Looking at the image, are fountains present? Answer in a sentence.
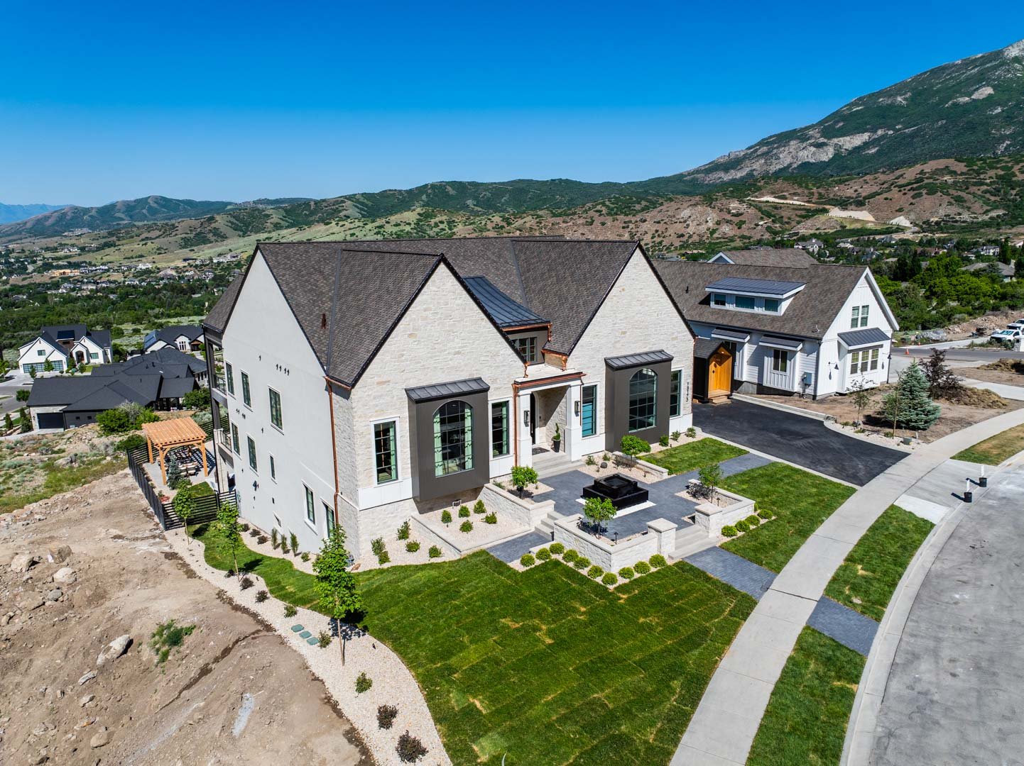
Yes, the picture does show a fountain.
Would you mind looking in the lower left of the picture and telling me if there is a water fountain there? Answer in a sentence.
No, I see no water fountain in the lower left of the picture.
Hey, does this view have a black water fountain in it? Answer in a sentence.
Yes, you can see a black water fountain in this photo.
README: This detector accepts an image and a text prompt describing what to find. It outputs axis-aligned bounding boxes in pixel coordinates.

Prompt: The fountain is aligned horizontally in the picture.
[568,473,663,518]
